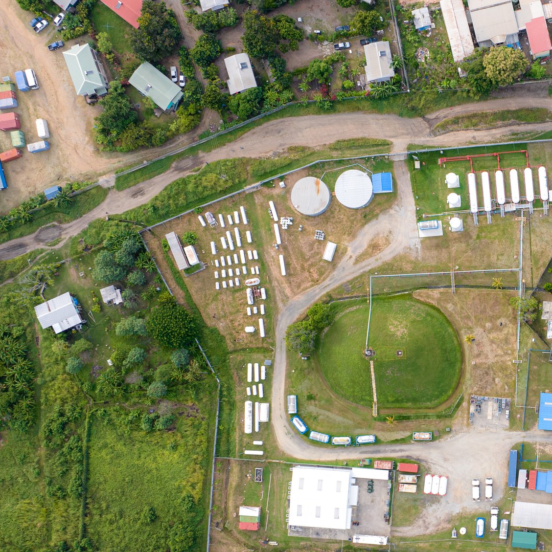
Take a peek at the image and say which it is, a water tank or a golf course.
water tank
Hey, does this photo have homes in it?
Yes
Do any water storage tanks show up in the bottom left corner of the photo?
No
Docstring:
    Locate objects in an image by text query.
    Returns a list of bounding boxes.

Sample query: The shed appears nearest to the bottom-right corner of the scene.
[513,530,538,548]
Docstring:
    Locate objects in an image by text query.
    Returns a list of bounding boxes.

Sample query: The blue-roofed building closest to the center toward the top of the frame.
[372,172,393,194]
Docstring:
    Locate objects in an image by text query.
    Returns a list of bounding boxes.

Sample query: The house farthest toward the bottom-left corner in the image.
[35,292,86,333]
